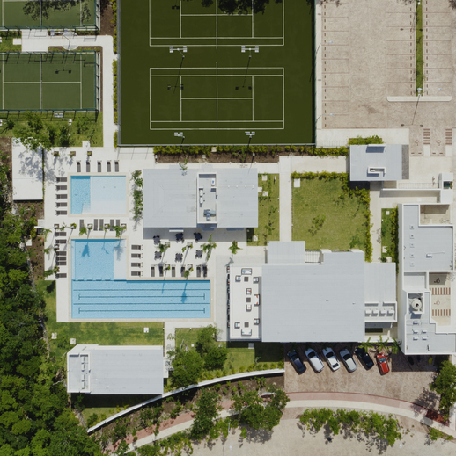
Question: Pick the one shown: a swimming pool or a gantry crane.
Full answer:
The one in the frame is a swimming pool.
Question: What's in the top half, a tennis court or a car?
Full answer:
You can see a tennis court in the top half.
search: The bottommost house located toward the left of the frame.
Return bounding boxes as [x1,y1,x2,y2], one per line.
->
[68,344,169,394]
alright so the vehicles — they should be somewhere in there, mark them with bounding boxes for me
[322,348,343,373]
[287,350,308,377]
[339,349,360,374]
[304,349,326,374]
[354,346,378,373]
[377,354,390,376]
